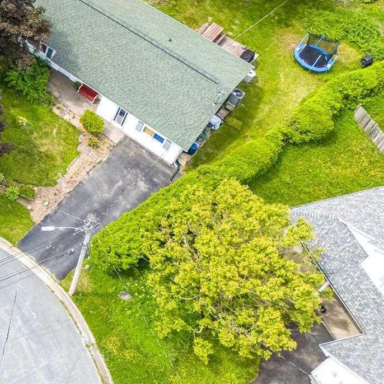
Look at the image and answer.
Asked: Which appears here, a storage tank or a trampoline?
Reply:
trampoline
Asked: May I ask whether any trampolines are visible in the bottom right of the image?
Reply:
No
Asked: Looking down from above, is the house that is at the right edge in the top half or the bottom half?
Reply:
bottom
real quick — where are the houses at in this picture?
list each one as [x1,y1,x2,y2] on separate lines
[1,0,255,169]
[288,189,384,384]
